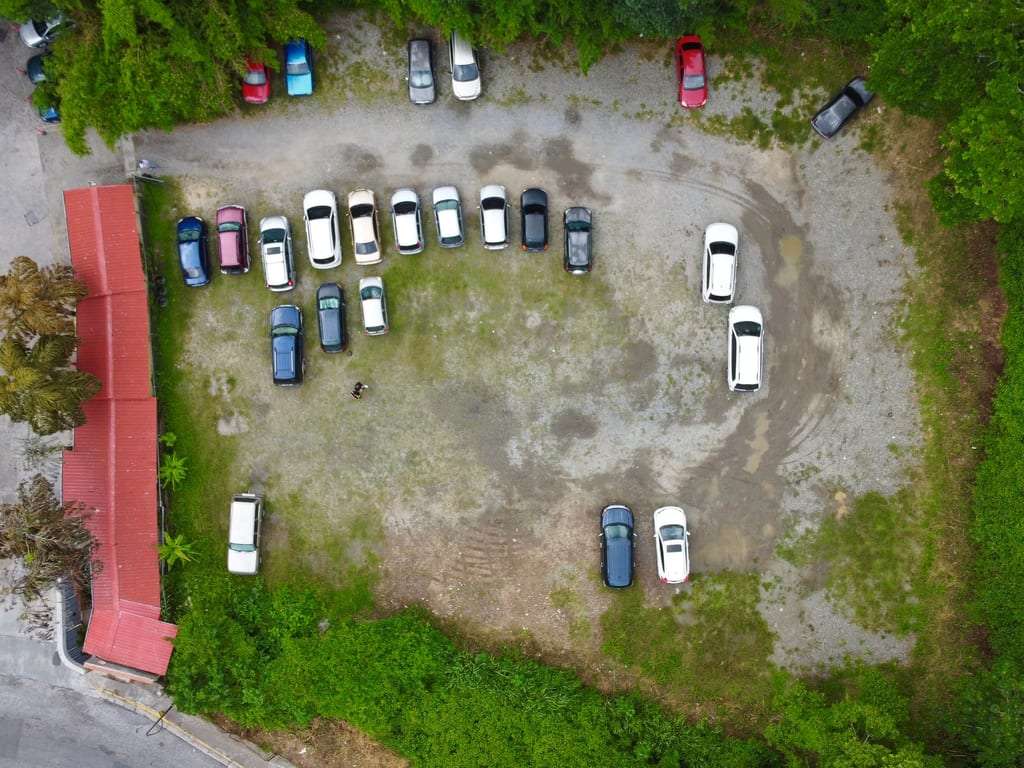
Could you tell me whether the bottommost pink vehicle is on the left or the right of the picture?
left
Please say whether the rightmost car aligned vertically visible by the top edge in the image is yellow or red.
red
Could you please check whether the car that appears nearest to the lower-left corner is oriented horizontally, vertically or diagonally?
vertically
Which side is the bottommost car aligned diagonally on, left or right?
right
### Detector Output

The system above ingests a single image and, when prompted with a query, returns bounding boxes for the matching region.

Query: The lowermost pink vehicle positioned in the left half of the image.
[215,205,251,276]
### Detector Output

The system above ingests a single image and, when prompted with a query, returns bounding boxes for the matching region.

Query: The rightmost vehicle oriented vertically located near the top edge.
[674,34,710,110]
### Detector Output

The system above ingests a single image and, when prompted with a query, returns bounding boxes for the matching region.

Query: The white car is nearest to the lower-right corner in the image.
[654,504,690,584]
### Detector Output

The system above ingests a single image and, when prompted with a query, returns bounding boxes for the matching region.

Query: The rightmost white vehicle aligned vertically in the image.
[702,222,740,304]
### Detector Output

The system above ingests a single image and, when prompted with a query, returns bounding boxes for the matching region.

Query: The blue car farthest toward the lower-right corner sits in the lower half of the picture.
[601,504,637,588]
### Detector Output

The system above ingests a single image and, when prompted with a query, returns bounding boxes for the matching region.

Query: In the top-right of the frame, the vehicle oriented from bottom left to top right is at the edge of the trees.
[810,75,871,140]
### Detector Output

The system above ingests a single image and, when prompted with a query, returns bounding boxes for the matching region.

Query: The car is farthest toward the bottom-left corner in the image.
[227,495,262,575]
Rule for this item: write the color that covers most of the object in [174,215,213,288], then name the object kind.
blue car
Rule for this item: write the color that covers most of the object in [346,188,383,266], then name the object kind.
white car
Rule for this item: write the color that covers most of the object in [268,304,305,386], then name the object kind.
blue car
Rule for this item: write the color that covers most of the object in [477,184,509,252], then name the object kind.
white car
